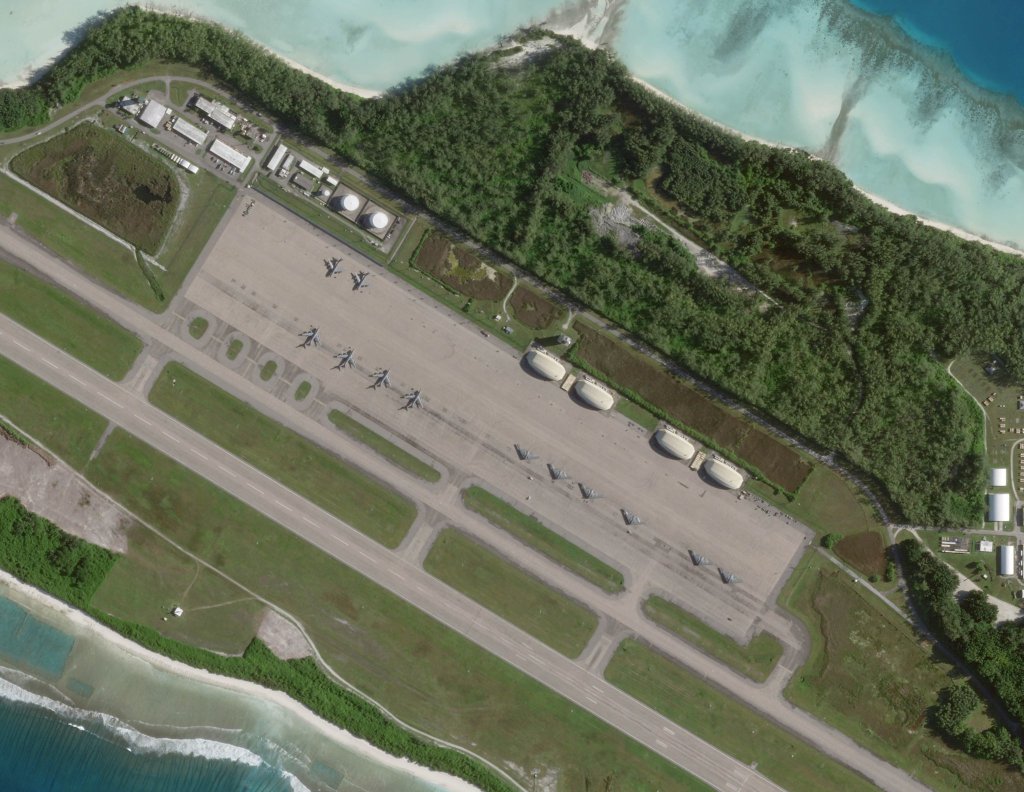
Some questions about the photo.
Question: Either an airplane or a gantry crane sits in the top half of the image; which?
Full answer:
It is an airplane that can be seen in the top half of the image.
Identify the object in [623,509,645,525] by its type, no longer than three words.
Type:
airplane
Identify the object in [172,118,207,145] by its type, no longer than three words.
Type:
building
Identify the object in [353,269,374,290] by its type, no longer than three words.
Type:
airplane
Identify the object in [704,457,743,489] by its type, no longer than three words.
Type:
hangar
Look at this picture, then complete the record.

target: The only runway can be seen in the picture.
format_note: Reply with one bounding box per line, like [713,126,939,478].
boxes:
[0,313,787,792]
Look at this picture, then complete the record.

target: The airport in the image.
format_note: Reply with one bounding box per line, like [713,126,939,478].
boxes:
[0,187,938,792]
